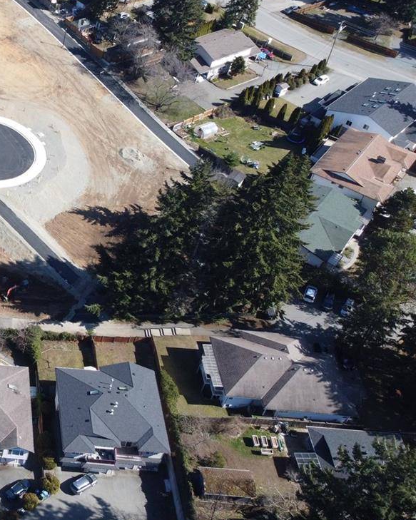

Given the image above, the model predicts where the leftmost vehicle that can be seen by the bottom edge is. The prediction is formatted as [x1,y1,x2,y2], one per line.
[2,475,31,500]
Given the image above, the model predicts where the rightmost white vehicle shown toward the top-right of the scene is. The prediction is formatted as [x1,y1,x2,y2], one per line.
[315,71,331,84]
